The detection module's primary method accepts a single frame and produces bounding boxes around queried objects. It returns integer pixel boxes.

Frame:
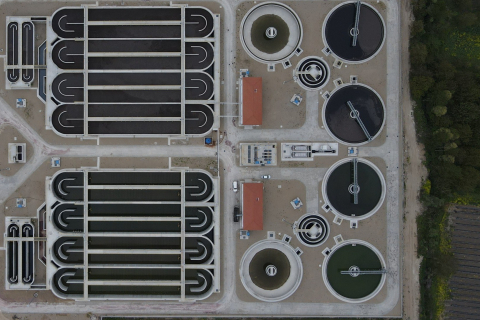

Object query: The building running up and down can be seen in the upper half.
[241,77,262,125]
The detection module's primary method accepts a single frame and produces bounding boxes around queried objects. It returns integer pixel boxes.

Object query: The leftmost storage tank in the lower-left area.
[0,203,47,289]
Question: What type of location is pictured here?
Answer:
industrial area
